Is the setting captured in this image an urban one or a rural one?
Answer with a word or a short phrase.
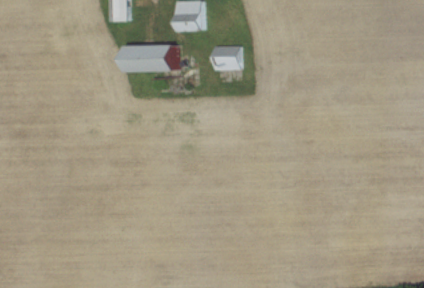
rural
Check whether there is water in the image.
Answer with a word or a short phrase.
No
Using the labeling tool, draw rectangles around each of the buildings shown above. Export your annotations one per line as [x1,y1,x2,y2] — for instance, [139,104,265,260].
[109,0,132,23]
[114,46,180,72]
[171,0,206,32]
[210,47,243,71]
